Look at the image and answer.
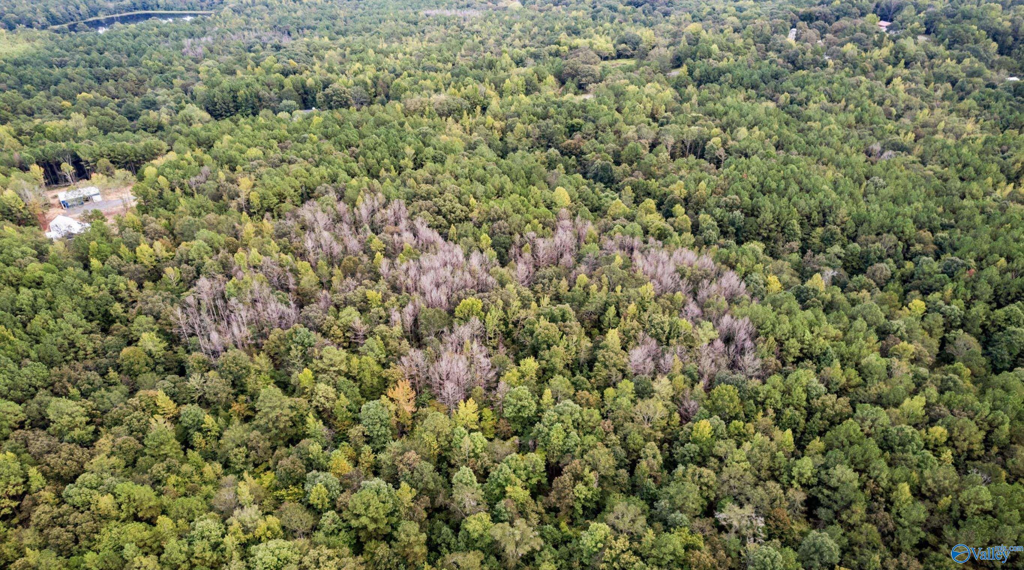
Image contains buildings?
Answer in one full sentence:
Yes, a building can be made out from above.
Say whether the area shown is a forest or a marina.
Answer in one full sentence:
What you see here is a forest.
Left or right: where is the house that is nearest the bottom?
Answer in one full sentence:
The house that is nearest the bottom sits on the left side.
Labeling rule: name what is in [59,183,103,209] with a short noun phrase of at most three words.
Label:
shed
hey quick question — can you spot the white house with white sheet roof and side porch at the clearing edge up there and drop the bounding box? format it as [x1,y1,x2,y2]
[44,216,90,244]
